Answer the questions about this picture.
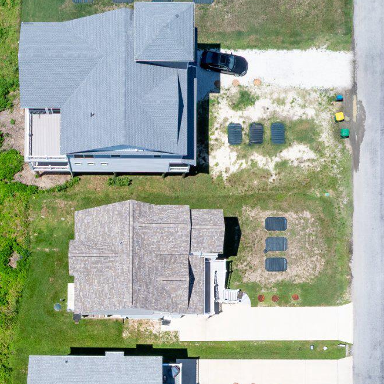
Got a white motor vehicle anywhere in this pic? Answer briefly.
No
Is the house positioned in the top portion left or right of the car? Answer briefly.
to its left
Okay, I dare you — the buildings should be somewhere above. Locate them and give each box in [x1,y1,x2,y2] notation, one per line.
[19,2,197,181]
[68,200,241,320]
[27,352,181,384]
